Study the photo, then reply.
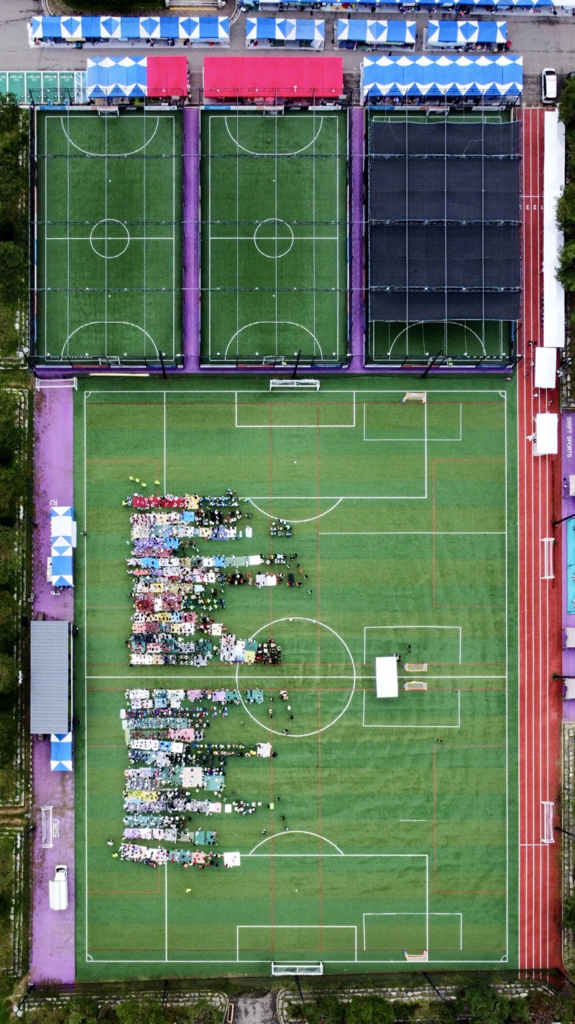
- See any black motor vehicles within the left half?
No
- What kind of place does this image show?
sports ground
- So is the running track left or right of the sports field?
right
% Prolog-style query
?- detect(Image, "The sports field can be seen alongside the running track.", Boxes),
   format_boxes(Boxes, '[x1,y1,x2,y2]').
[75,373,518,983]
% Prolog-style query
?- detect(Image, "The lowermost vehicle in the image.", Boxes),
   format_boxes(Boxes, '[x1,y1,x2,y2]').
[50,863,69,909]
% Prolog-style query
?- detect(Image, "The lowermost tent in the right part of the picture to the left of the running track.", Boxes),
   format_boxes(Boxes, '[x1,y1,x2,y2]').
[374,656,397,697]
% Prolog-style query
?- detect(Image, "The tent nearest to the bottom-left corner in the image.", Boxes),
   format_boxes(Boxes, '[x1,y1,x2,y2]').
[50,731,75,771]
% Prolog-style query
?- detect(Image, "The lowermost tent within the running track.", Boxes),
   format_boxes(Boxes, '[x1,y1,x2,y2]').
[532,414,557,458]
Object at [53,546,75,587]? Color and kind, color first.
blue tent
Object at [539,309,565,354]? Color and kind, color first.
white tent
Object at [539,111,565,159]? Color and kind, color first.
white tent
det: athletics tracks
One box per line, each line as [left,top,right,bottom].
[518,108,562,980]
